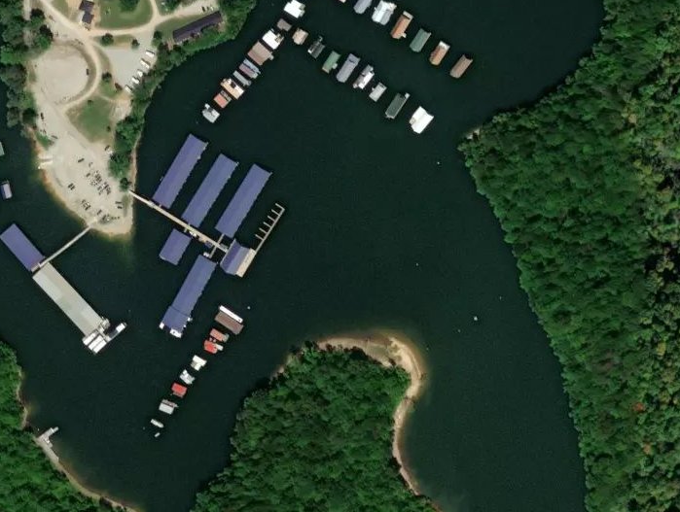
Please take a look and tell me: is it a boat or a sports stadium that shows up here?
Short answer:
boat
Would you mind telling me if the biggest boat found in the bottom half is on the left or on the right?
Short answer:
left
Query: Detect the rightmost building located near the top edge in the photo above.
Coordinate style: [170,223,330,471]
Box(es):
[173,10,223,43]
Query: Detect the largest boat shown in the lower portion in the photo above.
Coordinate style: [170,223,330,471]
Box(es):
[215,310,244,334]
